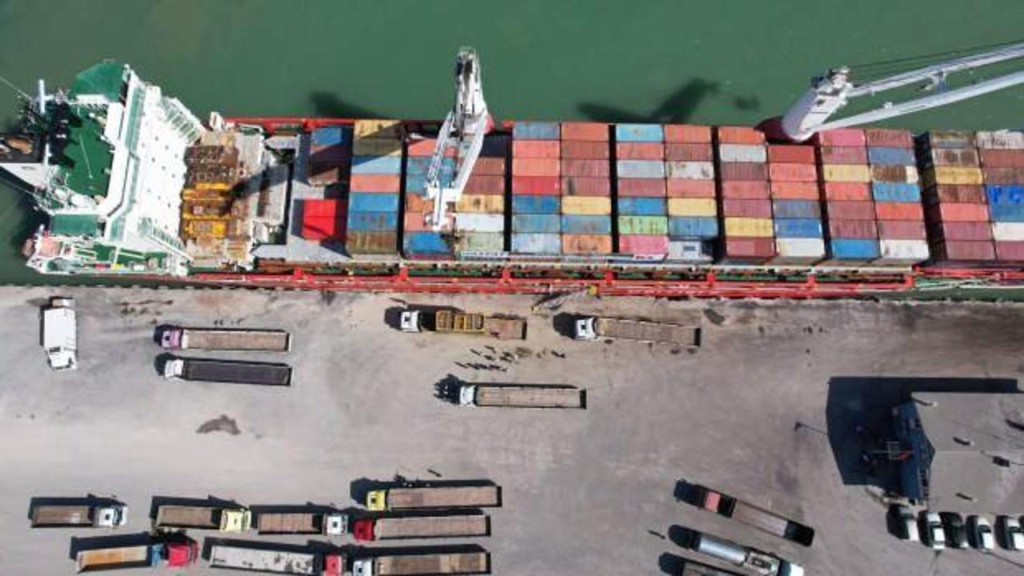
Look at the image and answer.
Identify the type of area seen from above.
port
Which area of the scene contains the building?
bottom right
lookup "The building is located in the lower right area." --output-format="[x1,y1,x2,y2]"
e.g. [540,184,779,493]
[891,390,1024,514]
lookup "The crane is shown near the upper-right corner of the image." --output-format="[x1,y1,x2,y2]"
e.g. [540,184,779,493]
[752,41,1024,145]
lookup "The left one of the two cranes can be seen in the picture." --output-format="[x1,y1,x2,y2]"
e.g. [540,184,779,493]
[424,55,494,249]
